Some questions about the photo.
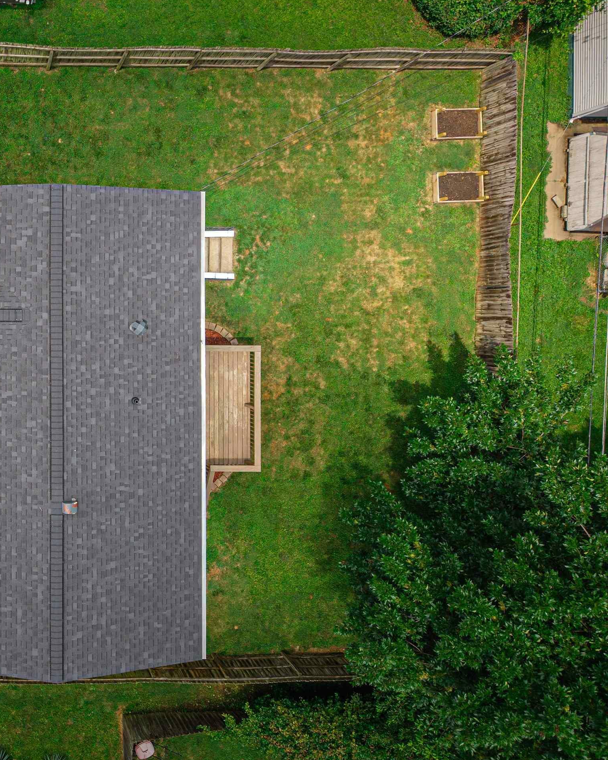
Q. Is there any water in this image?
No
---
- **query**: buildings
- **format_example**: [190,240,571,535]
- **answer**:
[552,134,608,230]
[0,184,206,681]
[557,0,608,127]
